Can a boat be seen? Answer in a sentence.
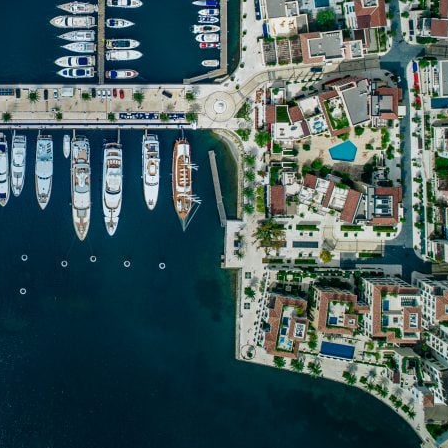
Yes, a boat appears in the view.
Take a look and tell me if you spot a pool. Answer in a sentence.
Yes, a pool is visible in the scene.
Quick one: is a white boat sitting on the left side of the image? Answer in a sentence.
Yes, a white boat is visible on the left side of the image.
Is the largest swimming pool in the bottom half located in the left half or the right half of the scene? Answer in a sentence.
You can find the largest swimming pool in the bottom half on the right side of the picture.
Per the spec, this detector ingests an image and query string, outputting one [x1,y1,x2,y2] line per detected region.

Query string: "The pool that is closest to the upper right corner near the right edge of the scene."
[430,97,448,110]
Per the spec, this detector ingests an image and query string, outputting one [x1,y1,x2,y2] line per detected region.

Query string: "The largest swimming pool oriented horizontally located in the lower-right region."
[319,340,356,361]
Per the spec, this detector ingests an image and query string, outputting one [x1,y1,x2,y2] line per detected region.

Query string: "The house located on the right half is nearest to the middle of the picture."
[263,170,301,216]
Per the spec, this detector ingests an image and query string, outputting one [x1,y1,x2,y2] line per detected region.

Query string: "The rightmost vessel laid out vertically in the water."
[173,131,200,232]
